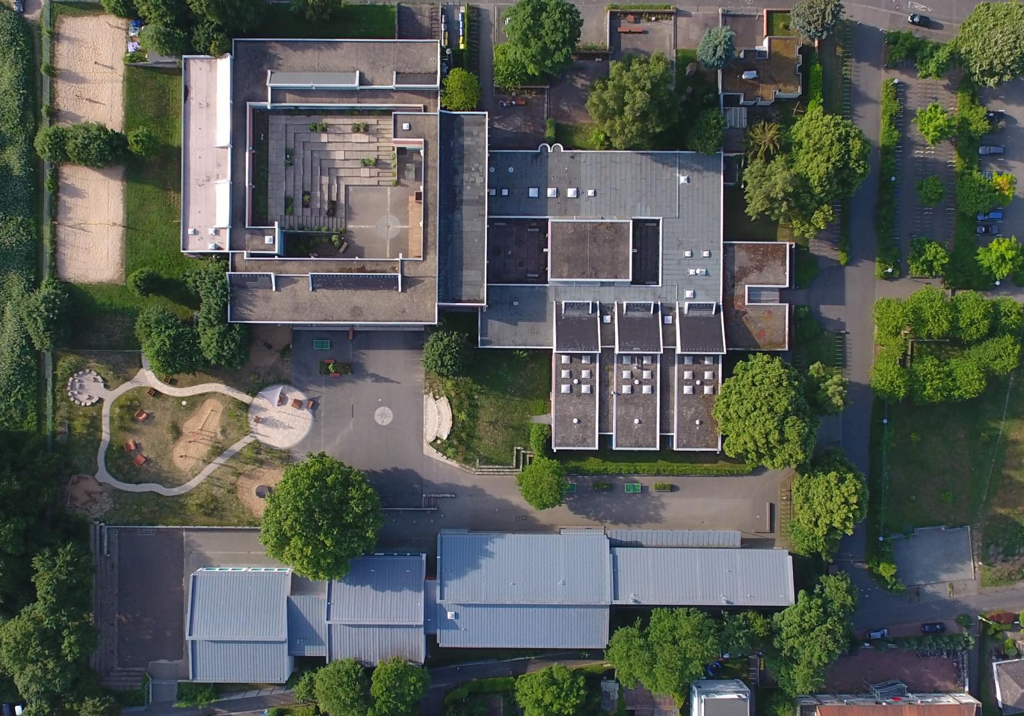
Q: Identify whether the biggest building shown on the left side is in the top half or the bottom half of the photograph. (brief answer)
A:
top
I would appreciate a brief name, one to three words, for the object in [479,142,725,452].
building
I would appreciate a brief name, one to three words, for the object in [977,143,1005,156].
vehicle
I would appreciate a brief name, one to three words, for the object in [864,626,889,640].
car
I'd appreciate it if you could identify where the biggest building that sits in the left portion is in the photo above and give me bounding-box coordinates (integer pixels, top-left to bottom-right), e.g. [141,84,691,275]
[181,38,488,330]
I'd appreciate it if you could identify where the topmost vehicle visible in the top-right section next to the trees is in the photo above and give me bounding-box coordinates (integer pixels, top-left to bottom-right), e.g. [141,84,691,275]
[905,13,932,28]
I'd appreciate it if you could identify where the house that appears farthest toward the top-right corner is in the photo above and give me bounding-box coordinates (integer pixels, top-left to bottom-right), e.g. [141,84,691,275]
[714,35,802,131]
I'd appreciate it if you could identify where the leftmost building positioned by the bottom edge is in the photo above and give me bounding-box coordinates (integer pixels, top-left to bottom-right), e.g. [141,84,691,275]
[184,565,328,683]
